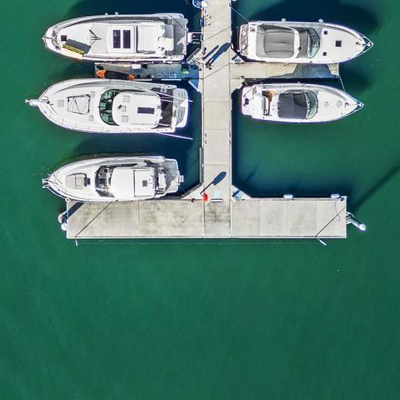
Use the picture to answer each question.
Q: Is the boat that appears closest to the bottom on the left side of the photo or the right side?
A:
left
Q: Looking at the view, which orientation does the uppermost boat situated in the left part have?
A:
horizontally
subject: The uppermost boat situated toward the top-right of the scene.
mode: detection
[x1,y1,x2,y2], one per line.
[236,20,376,63]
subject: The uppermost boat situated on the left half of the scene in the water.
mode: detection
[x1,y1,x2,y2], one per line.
[38,10,202,63]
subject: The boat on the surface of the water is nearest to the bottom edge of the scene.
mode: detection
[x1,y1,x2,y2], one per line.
[41,154,183,203]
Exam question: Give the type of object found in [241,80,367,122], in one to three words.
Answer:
boat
